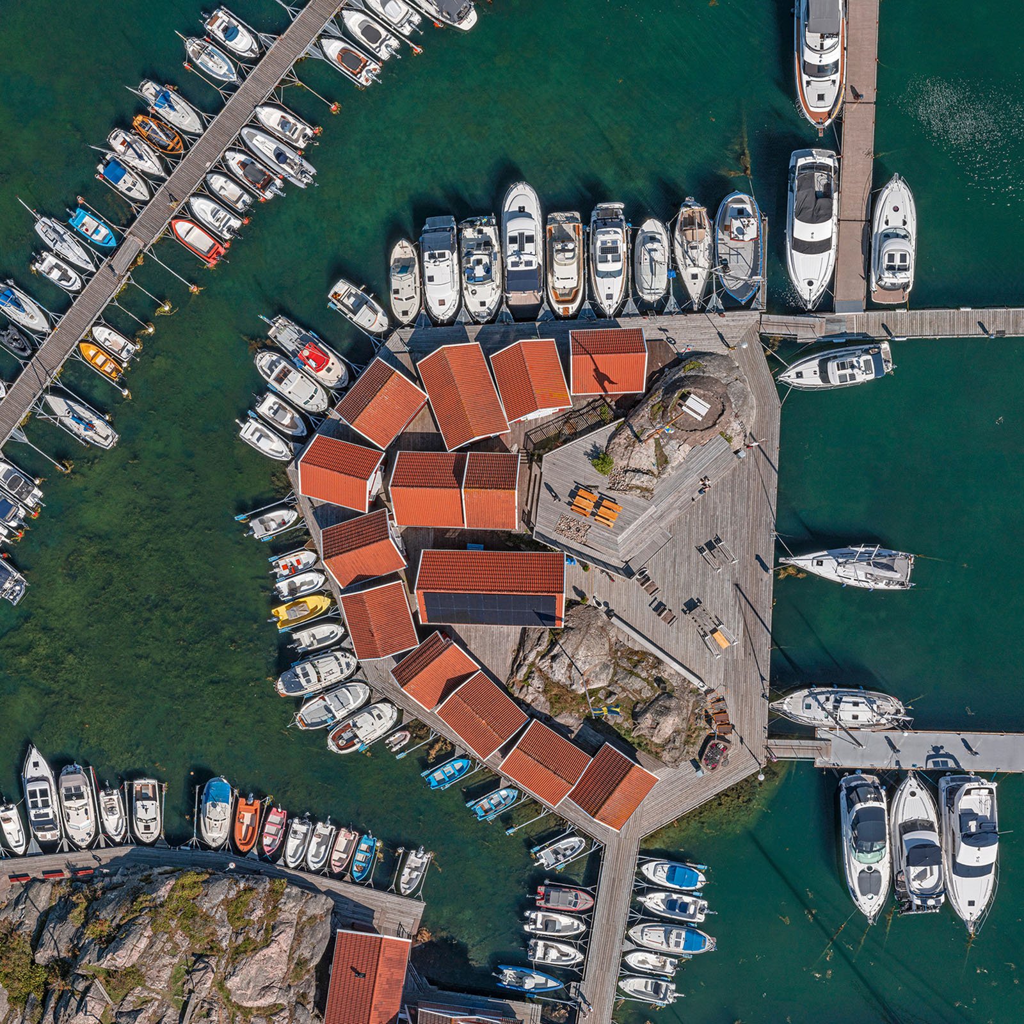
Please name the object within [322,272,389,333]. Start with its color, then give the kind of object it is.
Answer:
white boat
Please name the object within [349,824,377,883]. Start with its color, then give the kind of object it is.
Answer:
blue boat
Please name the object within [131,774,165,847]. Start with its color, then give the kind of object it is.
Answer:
white boat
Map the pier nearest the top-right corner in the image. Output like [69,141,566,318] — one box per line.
[842,0,879,103]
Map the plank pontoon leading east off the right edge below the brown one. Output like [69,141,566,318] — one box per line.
[854,308,1024,339]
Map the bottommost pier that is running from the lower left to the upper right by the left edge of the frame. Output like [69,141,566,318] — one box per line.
[0,259,136,452]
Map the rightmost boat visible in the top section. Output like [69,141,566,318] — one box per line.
[866,170,921,309]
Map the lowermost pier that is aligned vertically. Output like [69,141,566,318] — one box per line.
[575,838,639,1024]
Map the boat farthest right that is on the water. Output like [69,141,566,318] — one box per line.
[935,770,1002,936]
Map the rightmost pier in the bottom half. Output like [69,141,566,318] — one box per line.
[814,728,1024,772]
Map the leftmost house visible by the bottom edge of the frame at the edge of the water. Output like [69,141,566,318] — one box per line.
[321,928,413,1024]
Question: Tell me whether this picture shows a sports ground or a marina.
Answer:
marina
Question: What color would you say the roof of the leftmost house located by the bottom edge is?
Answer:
red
